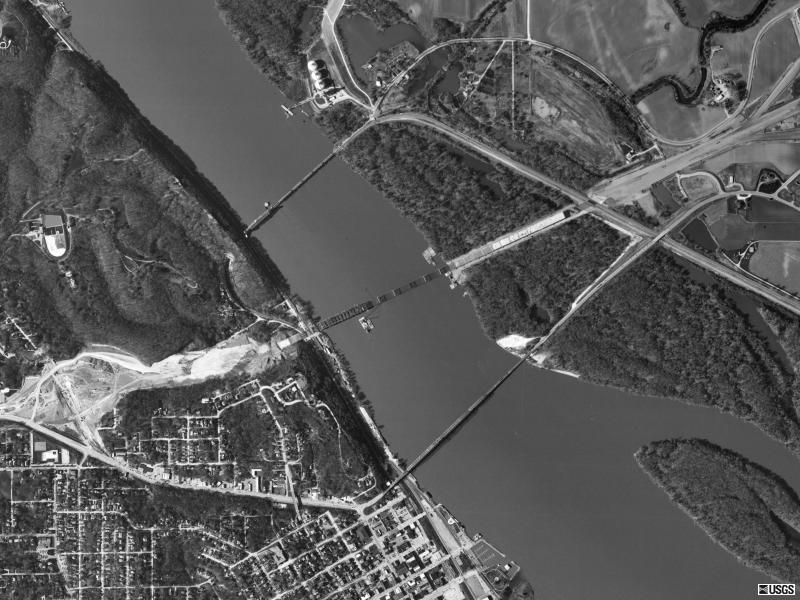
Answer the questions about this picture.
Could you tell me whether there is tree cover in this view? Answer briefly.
Yes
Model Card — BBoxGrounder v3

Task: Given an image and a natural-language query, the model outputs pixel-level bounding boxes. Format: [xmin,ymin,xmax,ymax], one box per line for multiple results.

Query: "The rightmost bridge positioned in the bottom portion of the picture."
[392,346,545,484]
